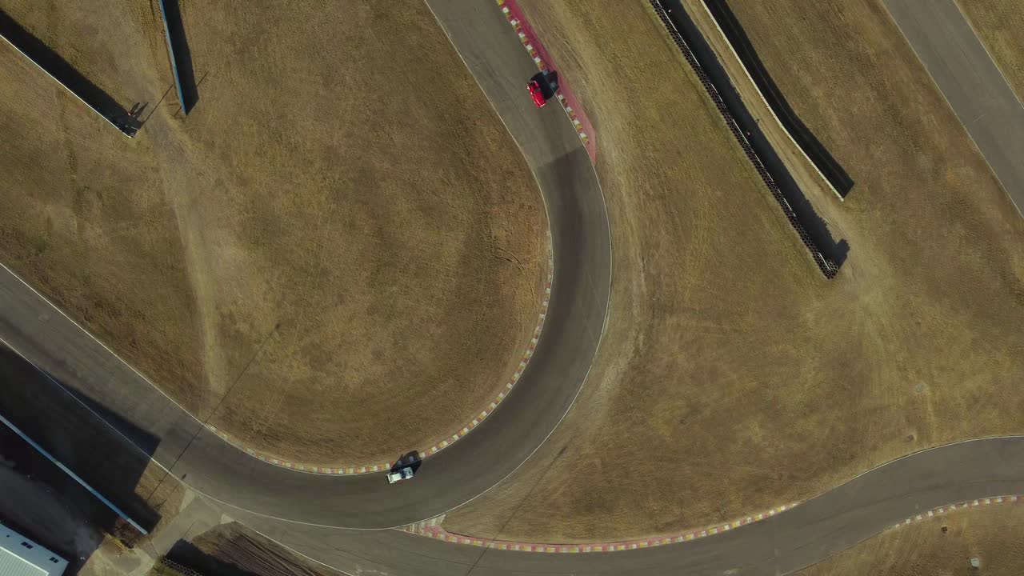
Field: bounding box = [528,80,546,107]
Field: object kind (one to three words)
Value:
car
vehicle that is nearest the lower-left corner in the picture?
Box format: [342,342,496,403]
[387,468,414,482]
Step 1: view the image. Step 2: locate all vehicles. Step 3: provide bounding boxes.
[387,468,414,482]
[528,80,546,107]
